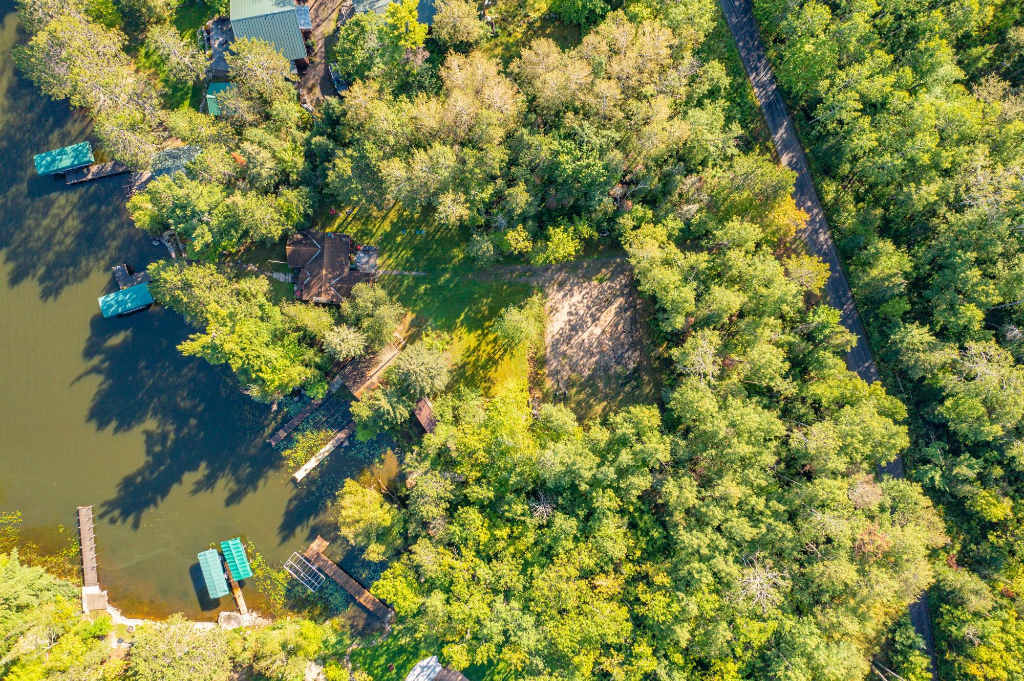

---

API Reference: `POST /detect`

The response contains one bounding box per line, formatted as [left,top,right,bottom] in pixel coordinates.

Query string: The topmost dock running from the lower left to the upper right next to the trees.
[268,392,333,447]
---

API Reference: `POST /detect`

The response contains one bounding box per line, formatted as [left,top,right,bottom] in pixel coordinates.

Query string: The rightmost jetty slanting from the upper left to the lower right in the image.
[302,535,393,622]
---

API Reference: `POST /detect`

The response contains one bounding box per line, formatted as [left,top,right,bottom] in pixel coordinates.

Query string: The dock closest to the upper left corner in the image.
[65,162,130,185]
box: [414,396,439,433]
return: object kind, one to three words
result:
shed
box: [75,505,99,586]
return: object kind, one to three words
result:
pier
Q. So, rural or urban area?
rural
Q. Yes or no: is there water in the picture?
Yes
